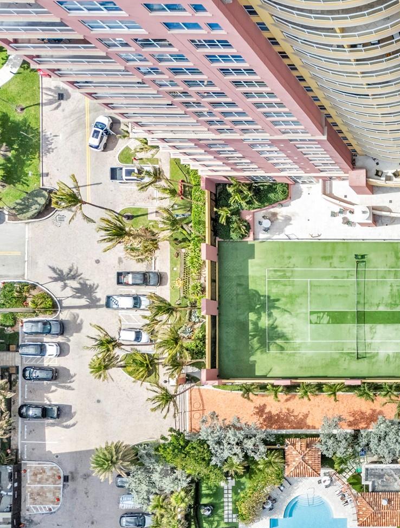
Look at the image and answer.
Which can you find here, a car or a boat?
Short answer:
car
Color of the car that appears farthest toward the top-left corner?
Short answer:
white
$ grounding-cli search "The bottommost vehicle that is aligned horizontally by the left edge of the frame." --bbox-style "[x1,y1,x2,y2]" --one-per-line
[18,402,63,421]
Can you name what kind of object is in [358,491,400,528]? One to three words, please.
building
